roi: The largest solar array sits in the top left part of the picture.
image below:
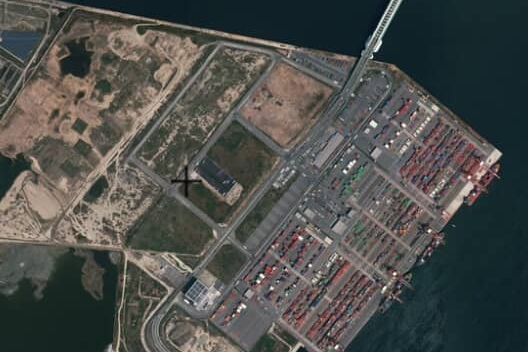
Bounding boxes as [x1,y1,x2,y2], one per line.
[1,31,40,59]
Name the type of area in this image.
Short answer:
port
